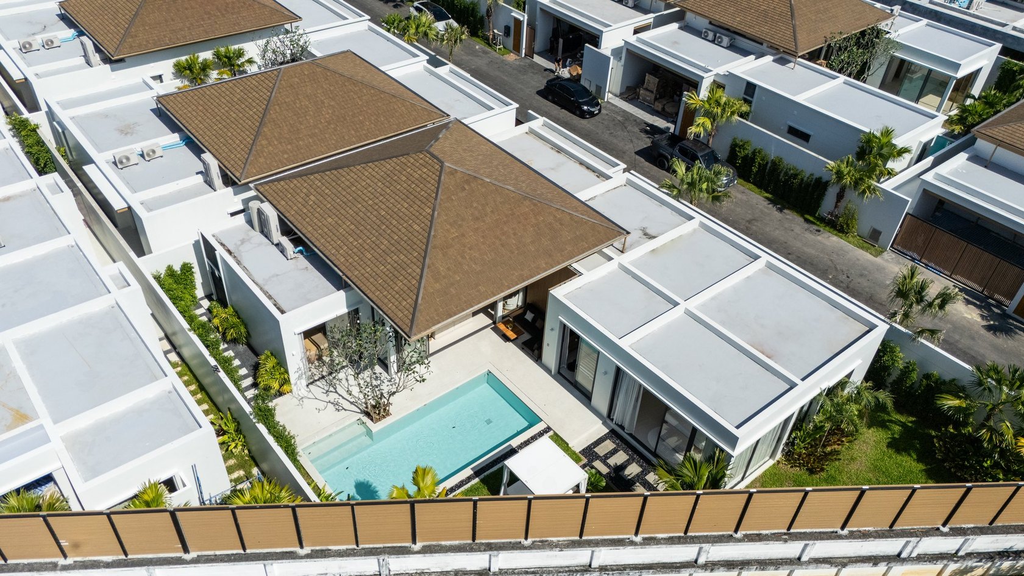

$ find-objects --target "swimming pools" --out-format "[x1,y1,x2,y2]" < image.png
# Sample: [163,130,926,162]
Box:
[302,371,542,504]
[930,135,958,158]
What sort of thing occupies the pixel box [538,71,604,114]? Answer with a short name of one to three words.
car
